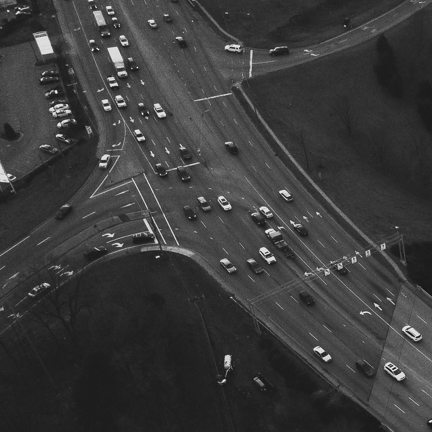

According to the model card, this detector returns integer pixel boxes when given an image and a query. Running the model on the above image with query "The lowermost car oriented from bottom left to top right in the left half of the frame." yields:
[26,284,51,300]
